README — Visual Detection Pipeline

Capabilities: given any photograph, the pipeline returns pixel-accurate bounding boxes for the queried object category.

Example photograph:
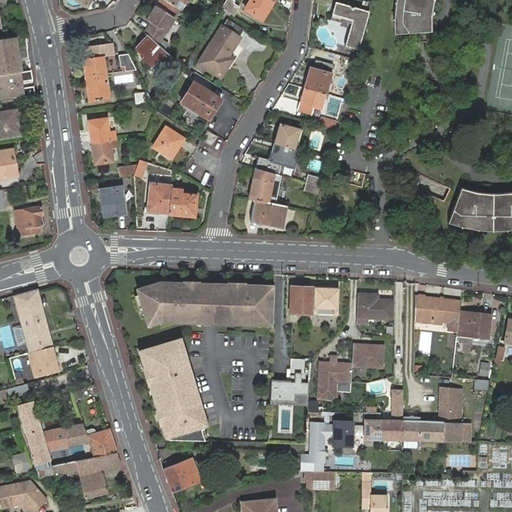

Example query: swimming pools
[322,94,344,120]
[65,0,82,8]
[334,456,355,466]
[316,26,338,48]
[68,445,85,456]
[373,479,392,490]
[446,454,476,468]
[12,358,23,372]
[504,346,512,358]
[278,405,294,434]
[0,324,16,350]
[366,379,388,396]
[309,130,324,151]
[306,158,322,173]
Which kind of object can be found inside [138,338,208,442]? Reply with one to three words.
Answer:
building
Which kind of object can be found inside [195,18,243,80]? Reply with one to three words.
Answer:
house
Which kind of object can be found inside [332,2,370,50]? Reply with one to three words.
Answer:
house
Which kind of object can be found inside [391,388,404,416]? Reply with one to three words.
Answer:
shed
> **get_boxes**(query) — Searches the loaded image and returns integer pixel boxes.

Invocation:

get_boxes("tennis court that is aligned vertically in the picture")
[485,23,512,111]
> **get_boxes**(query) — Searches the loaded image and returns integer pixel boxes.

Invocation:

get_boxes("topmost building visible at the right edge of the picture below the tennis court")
[448,190,512,234]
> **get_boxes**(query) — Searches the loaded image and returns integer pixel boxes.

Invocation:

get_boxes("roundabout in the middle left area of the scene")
[47,215,118,301]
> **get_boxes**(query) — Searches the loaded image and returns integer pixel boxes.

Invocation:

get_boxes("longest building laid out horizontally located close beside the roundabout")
[135,282,276,329]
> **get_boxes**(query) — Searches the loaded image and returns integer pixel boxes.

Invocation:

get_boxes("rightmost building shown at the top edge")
[394,0,436,36]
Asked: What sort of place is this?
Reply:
residential area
